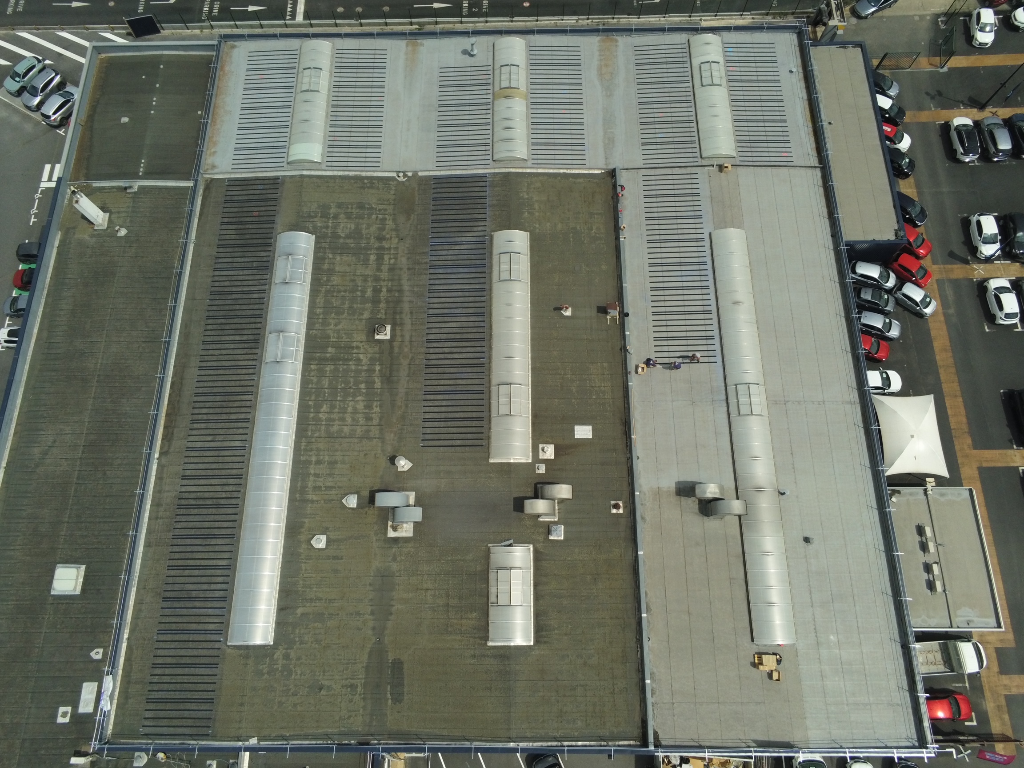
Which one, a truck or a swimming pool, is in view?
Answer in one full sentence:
It is a truck that can be seen here.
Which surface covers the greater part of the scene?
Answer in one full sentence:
Most of the picture is covered by buildings.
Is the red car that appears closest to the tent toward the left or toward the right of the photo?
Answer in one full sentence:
The red car that appears closest to the tent is on the right side of the image.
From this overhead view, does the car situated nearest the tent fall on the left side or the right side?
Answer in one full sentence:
It is on the right.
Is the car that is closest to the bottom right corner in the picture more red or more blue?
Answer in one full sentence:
From above, the car that is closest to the bottom right corner appears red.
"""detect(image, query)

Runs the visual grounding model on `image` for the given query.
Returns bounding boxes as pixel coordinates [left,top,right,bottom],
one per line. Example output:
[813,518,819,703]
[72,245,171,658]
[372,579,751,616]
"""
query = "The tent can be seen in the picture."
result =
[874,394,950,482]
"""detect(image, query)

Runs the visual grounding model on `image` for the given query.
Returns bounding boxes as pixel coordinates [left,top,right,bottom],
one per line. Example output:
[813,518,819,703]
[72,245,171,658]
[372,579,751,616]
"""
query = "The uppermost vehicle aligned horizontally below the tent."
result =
[918,637,998,674]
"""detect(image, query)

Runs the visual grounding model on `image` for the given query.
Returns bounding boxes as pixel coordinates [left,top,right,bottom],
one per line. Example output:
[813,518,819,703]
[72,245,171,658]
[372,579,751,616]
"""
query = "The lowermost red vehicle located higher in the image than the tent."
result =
[864,334,893,365]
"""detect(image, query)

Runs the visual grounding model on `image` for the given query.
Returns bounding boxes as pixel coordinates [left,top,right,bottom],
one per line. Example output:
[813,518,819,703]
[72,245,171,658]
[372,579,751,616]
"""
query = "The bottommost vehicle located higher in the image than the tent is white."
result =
[870,367,905,395]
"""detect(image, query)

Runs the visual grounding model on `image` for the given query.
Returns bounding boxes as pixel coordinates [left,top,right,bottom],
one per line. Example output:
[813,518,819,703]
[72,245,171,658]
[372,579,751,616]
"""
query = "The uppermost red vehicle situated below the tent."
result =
[927,692,977,726]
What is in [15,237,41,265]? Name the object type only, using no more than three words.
car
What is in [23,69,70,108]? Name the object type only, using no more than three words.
car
